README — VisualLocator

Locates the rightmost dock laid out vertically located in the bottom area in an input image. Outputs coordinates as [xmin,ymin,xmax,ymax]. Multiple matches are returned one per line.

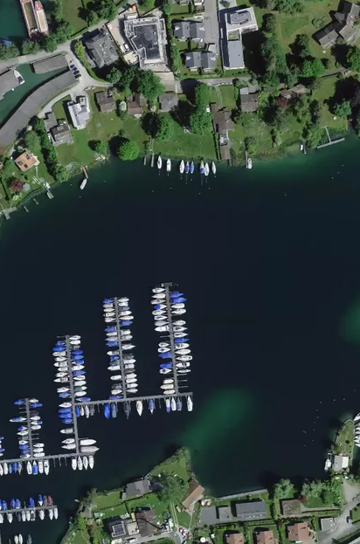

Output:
[158,284,182,394]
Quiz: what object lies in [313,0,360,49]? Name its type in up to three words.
house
